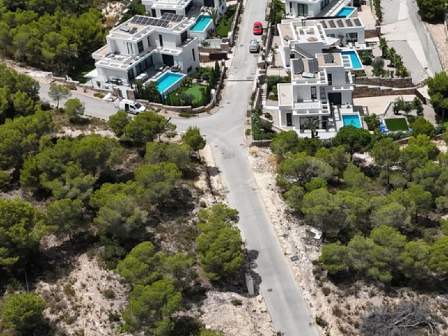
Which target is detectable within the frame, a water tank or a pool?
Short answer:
pool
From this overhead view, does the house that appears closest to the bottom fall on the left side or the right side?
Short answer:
right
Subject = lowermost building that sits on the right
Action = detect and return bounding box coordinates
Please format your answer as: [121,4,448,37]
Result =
[278,53,354,134]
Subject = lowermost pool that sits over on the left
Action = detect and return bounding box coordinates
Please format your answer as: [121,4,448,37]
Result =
[152,71,187,92]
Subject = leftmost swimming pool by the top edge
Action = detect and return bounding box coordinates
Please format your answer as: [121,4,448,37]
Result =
[192,14,214,34]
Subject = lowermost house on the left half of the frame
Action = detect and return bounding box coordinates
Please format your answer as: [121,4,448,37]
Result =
[84,12,205,92]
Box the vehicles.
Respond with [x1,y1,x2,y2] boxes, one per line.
[248,41,259,52]
[110,95,144,115]
[252,24,263,34]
